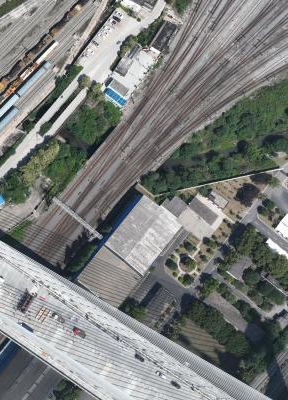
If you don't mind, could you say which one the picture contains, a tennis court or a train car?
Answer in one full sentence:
Looking from above, you can make out a train car.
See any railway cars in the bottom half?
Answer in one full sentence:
No, no railway car is visible in the bottom half.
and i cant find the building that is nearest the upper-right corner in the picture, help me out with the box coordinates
[149,20,178,51]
